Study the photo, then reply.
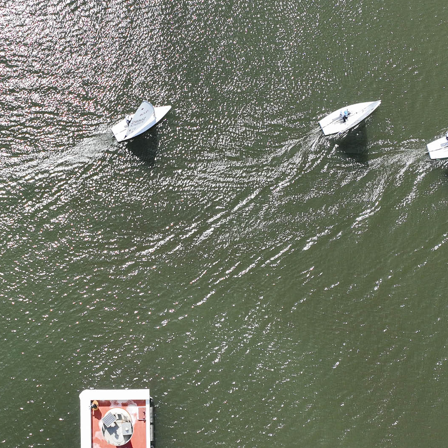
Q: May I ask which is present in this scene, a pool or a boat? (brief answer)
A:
boat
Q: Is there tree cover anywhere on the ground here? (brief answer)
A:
No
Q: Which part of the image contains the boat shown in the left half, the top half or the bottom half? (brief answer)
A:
top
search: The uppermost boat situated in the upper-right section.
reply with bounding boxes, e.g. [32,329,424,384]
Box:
[317,96,381,135]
